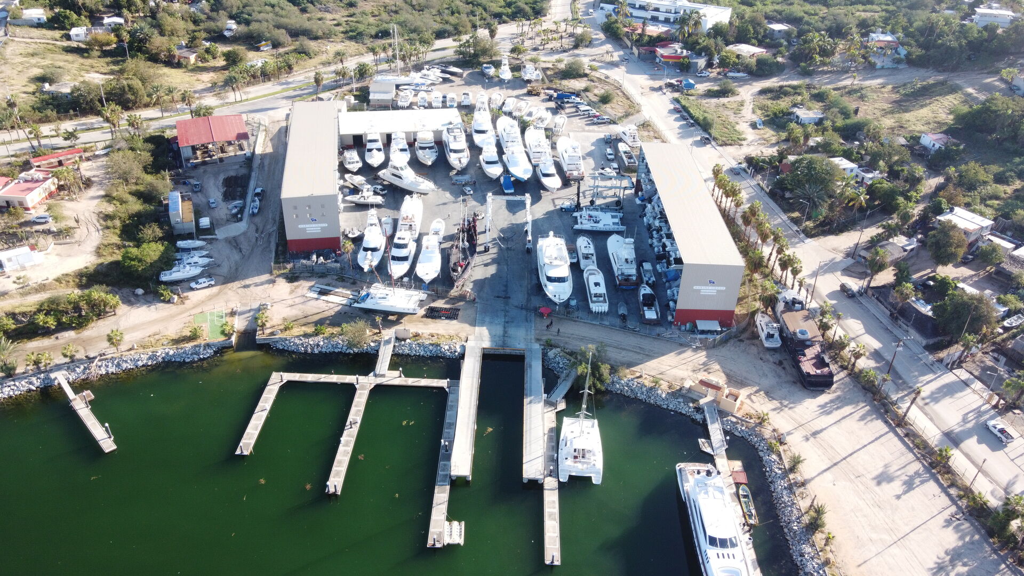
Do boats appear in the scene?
Yes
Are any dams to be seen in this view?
No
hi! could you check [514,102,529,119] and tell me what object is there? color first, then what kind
white boat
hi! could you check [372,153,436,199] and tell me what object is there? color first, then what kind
white boat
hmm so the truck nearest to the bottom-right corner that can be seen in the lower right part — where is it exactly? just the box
[984,422,1022,446]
